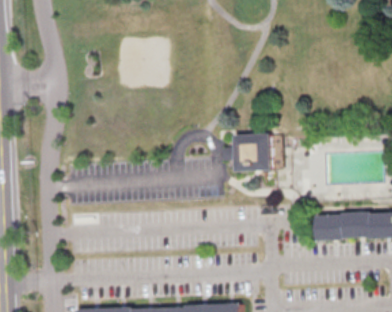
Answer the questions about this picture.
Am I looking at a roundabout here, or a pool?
pool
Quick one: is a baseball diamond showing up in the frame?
No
